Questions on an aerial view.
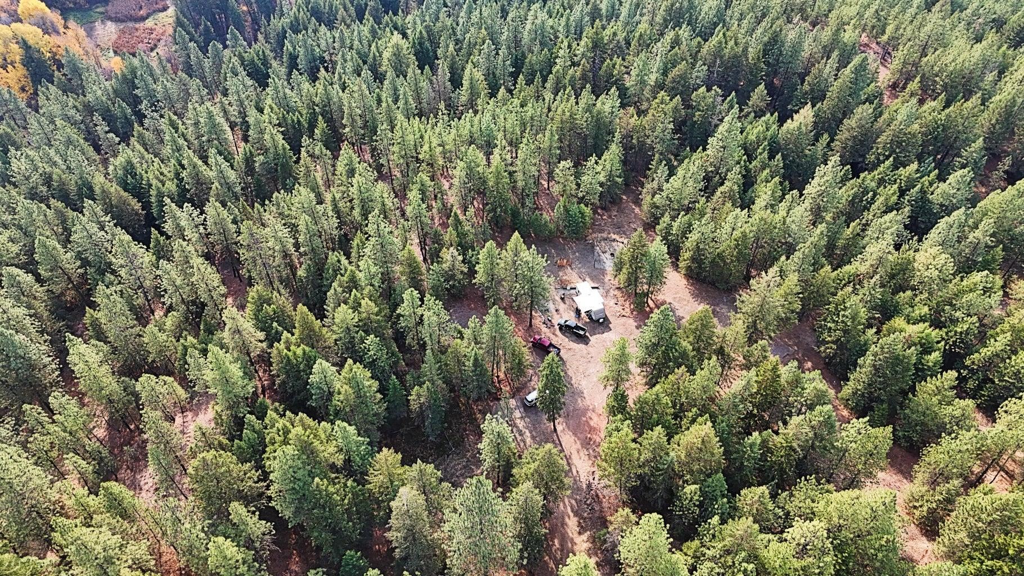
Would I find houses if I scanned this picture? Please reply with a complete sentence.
No, there is no house in the image.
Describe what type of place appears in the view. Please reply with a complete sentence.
The picture captures a forest.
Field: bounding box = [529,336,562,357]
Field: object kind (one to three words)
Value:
truck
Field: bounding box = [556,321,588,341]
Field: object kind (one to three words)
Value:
vehicle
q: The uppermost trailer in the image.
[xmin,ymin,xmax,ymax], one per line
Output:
[571,282,603,323]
